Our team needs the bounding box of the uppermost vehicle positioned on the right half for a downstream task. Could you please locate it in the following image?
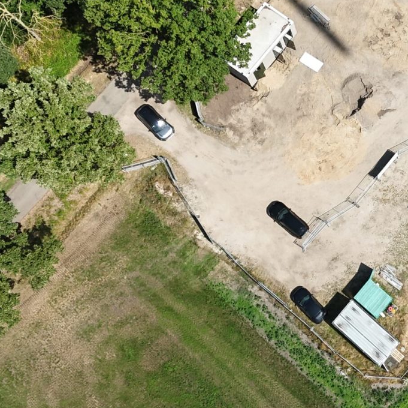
[263,199,310,242]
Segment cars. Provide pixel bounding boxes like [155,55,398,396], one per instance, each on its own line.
[285,282,329,328]
[263,199,310,242]
[133,103,176,143]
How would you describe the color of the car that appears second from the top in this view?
black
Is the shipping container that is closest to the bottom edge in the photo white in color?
Yes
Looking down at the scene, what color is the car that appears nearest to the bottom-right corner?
black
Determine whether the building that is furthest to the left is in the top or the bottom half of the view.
top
